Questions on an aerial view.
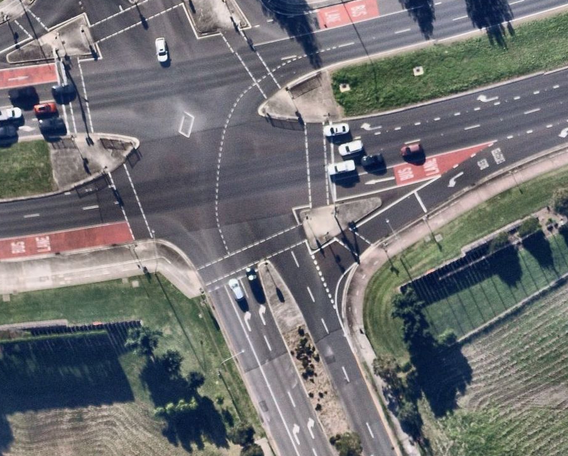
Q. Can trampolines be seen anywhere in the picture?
No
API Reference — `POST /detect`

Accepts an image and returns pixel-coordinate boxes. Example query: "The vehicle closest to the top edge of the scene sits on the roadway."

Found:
[155,38,168,64]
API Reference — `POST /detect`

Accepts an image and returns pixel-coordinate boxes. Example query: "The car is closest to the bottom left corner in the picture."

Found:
[231,279,246,302]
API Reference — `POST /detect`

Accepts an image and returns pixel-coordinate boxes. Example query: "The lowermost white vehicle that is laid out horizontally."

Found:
[328,162,355,176]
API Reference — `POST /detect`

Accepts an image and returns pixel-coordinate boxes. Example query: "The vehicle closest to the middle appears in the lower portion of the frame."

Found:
[245,265,262,291]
